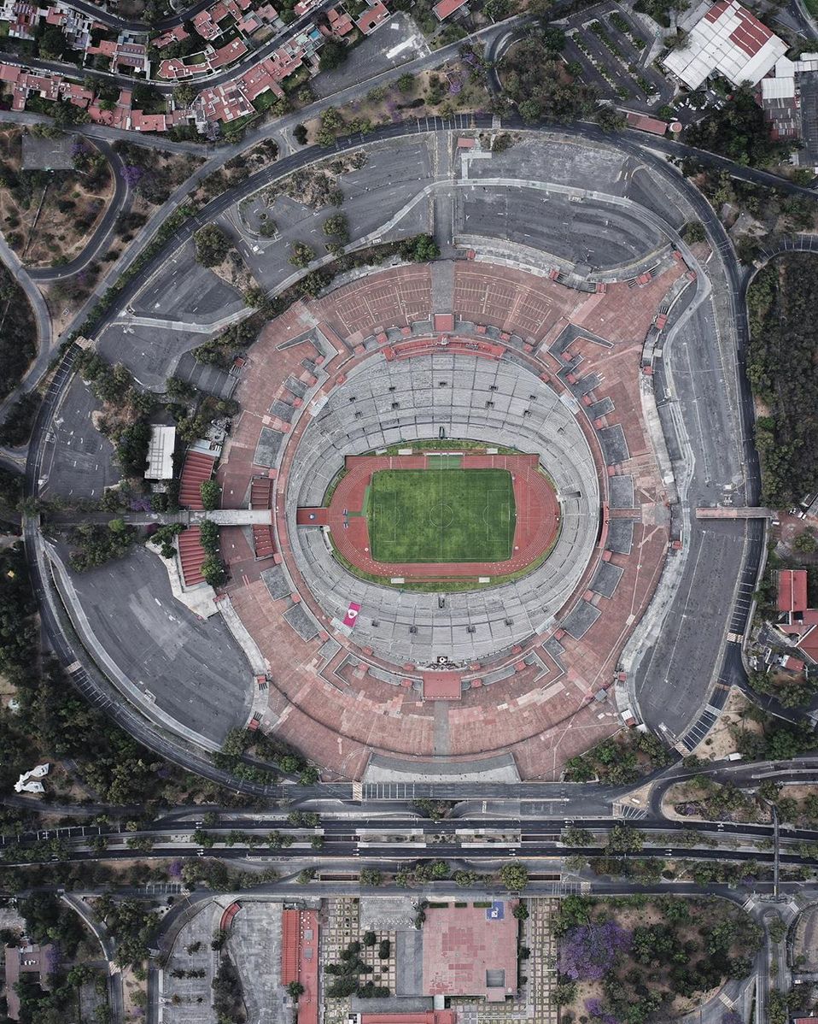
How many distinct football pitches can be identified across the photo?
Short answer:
1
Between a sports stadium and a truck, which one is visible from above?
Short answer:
sports stadium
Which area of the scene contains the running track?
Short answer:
center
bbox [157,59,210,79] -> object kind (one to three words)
house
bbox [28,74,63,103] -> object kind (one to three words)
house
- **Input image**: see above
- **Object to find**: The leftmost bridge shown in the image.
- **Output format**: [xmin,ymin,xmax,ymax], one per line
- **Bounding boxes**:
[175,510,273,526]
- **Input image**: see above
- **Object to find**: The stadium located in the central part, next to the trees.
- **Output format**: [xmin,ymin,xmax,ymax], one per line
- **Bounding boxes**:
[175,258,691,782]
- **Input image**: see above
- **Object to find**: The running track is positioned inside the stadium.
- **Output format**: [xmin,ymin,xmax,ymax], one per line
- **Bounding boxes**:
[329,450,561,581]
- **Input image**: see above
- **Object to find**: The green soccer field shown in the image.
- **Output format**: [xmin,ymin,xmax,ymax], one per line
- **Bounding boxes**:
[366,469,517,563]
